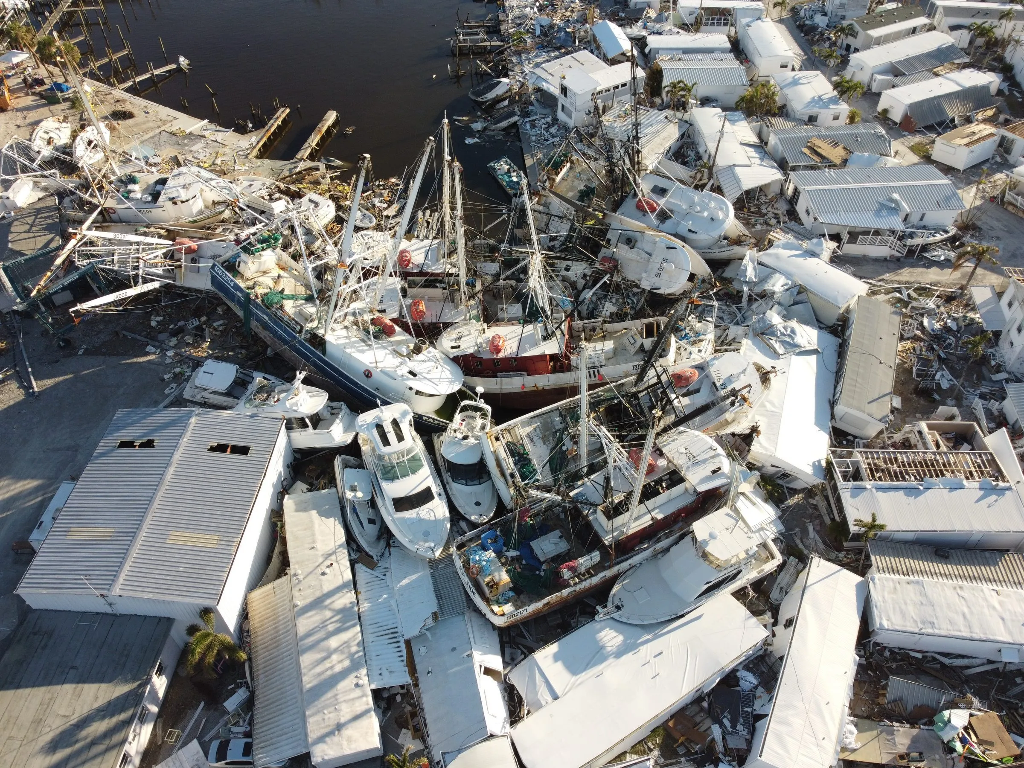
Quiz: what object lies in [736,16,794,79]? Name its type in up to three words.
house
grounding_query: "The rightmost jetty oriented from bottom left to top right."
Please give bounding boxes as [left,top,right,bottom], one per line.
[293,112,341,162]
